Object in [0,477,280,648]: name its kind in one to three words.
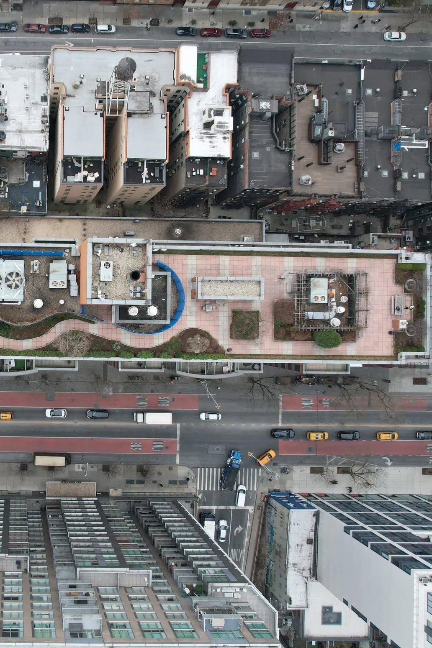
building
